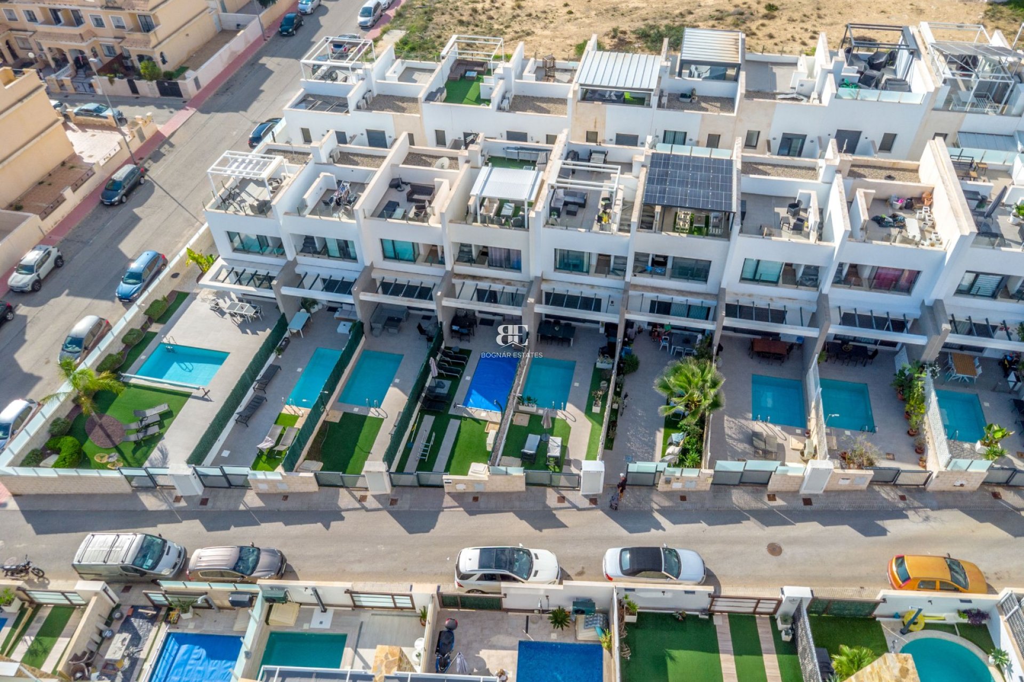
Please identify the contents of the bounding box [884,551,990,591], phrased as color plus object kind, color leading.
orange car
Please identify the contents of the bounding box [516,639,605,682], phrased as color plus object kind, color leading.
blue swimming pool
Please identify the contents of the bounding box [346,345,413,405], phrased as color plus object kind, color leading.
blue swimming pool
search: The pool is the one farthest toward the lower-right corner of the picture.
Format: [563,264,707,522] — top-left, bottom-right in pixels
[900,638,992,682]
